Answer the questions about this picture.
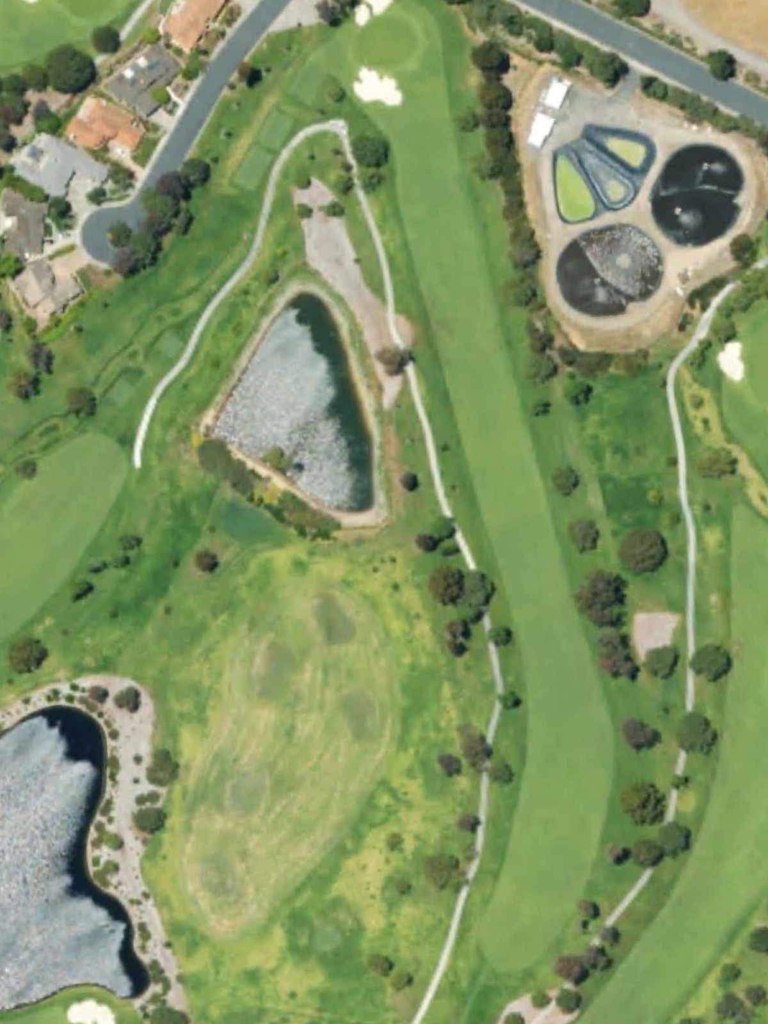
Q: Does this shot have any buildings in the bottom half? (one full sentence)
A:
No, no building appears in the bottom half.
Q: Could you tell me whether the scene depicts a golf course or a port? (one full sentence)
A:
This looks like a golf course.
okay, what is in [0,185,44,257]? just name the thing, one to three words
house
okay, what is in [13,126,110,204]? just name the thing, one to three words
house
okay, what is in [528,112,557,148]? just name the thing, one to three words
shed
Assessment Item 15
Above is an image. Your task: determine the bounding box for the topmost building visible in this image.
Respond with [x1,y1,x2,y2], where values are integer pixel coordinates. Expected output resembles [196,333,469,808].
[163,0,223,51]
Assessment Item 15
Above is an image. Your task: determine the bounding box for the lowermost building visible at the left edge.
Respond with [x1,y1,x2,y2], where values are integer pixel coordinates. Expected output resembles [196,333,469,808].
[6,255,88,320]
